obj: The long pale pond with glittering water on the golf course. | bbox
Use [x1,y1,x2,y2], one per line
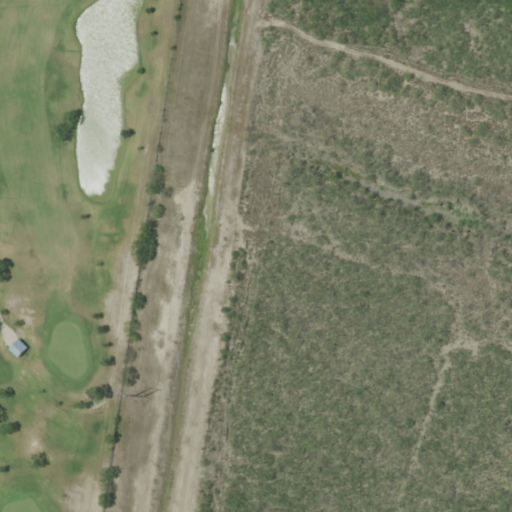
[78,0,141,194]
